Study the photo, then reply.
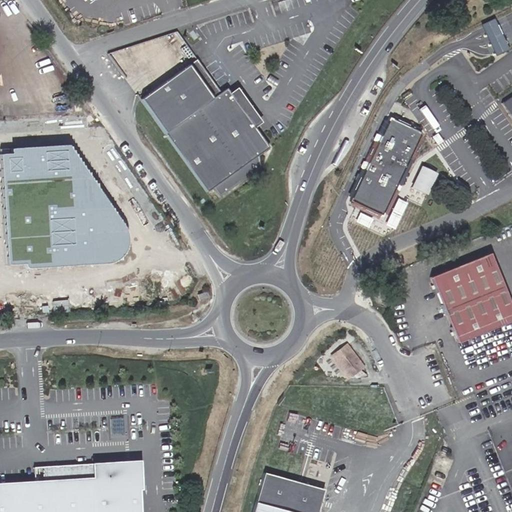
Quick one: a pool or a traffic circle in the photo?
traffic circle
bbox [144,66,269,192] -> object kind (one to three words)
building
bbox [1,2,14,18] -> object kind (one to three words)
vehicle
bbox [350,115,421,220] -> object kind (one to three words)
building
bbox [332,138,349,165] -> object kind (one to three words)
vehicle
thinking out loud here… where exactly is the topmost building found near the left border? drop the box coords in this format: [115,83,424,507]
[3,145,131,270]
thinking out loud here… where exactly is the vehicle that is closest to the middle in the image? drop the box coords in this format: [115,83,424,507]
[272,238,286,255]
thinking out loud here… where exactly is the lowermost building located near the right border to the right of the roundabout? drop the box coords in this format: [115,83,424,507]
[433,252,512,343]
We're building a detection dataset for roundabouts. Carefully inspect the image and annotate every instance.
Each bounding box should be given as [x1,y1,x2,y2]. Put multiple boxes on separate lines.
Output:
[202,254,326,381]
